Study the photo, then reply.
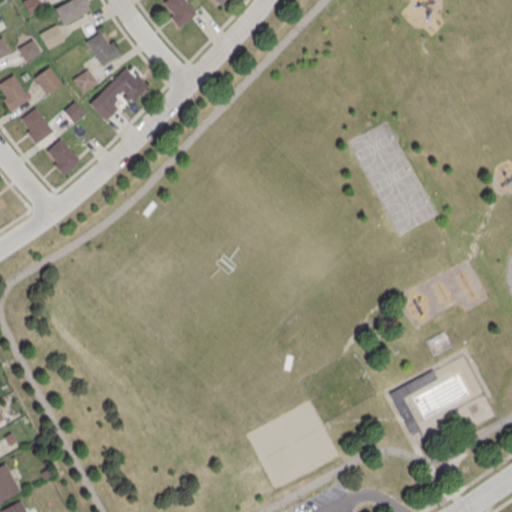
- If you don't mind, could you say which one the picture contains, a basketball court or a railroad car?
basketball court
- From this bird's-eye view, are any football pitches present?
Yes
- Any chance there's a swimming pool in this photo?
Yes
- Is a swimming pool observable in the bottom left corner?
No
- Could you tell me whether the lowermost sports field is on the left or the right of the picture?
right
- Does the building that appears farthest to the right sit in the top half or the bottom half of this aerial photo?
bottom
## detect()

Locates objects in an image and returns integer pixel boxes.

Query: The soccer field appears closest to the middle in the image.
[103,127,356,380]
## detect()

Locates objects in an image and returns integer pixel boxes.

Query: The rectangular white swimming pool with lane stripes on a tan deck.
[388,356,496,454]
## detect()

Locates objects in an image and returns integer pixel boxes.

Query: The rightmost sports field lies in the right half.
[303,352,376,423]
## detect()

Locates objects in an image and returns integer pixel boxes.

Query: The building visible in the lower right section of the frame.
[391,372,437,436]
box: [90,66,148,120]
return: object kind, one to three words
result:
house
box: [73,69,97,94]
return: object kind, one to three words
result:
building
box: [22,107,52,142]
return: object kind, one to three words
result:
house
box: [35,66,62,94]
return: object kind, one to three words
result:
building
